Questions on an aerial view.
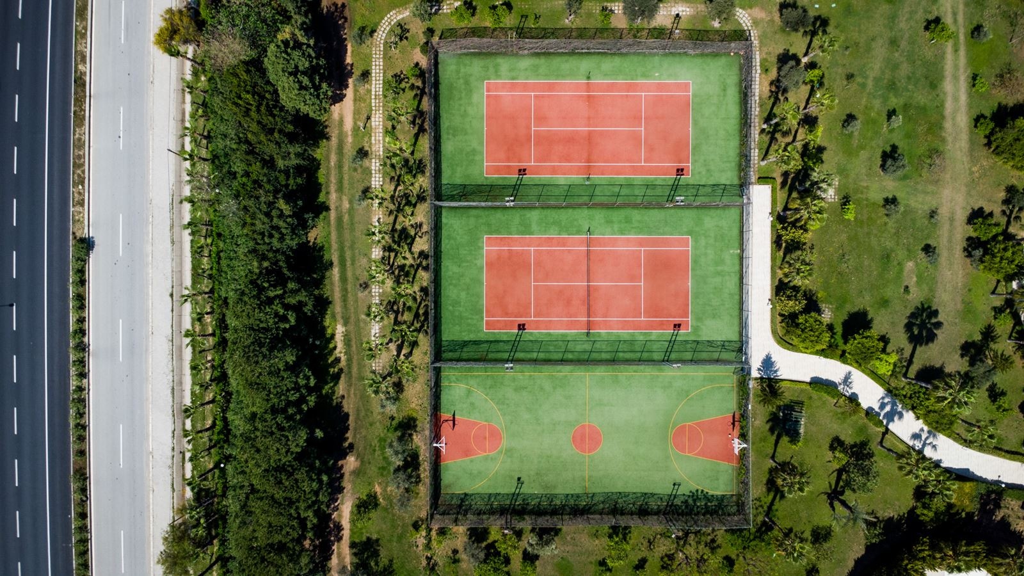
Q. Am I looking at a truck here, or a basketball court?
basketball court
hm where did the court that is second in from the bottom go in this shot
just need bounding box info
[433,207,742,361]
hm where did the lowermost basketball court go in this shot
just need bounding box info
[433,362,742,516]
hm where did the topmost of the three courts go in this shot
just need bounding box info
[433,52,742,206]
